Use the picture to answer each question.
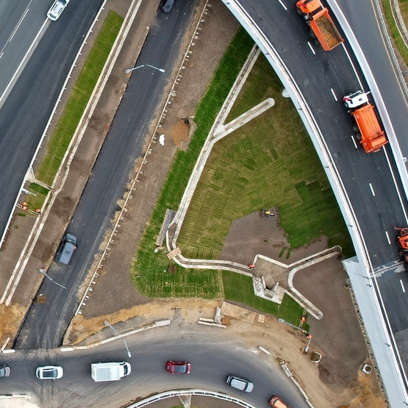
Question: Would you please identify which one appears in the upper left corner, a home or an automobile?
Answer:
automobile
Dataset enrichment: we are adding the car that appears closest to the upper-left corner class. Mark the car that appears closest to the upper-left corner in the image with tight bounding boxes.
[46,0,68,22]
